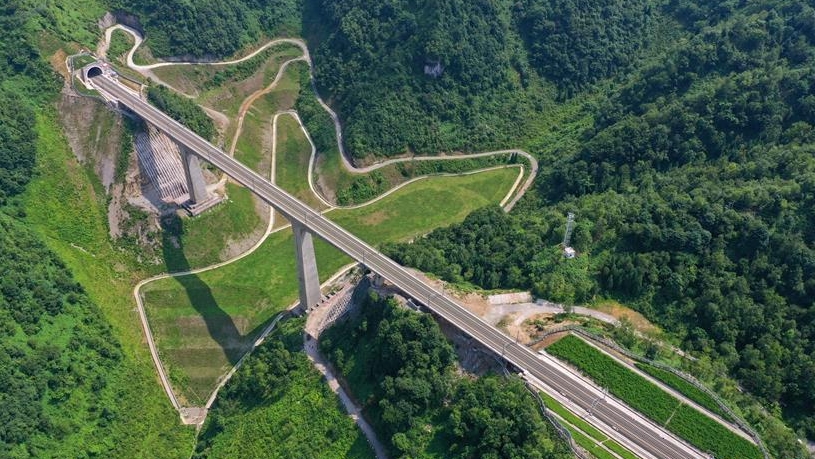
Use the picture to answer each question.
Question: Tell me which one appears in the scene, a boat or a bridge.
bridge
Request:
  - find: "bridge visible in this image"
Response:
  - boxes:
[114,91,544,377]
